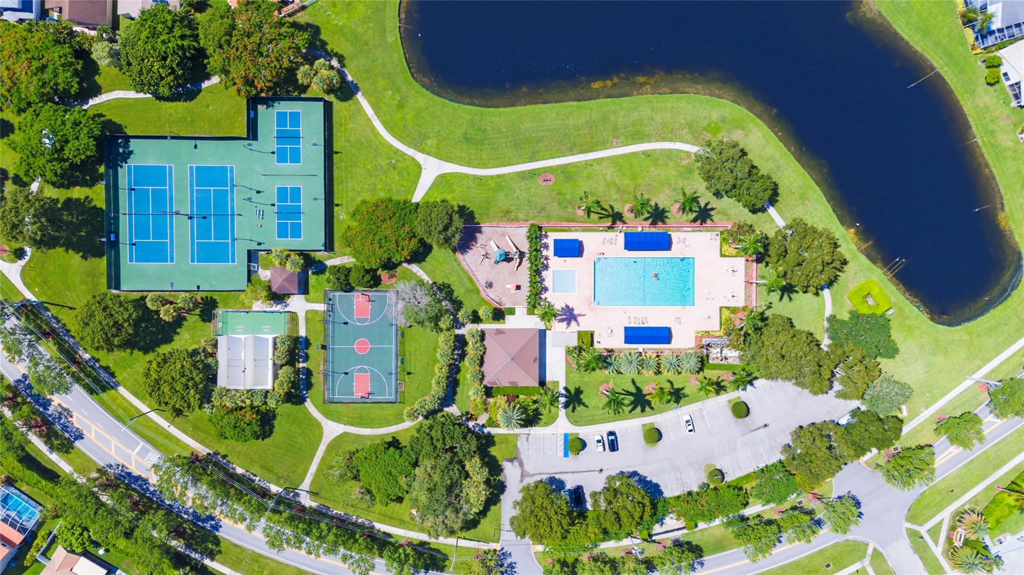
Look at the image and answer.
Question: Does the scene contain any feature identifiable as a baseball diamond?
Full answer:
No, I can't see a single baseball diamond in this photo.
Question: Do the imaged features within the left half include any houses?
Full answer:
Yes, I can see a house within the left half.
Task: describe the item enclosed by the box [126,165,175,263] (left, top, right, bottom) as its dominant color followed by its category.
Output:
blue tennis court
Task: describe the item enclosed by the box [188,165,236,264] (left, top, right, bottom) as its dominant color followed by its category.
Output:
blue tennis court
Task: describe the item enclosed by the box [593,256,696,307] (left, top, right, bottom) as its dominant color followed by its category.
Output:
blue swimming pool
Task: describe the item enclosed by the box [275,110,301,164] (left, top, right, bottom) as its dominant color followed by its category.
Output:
blue sports court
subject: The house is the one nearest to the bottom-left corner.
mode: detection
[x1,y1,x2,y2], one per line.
[0,515,30,565]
